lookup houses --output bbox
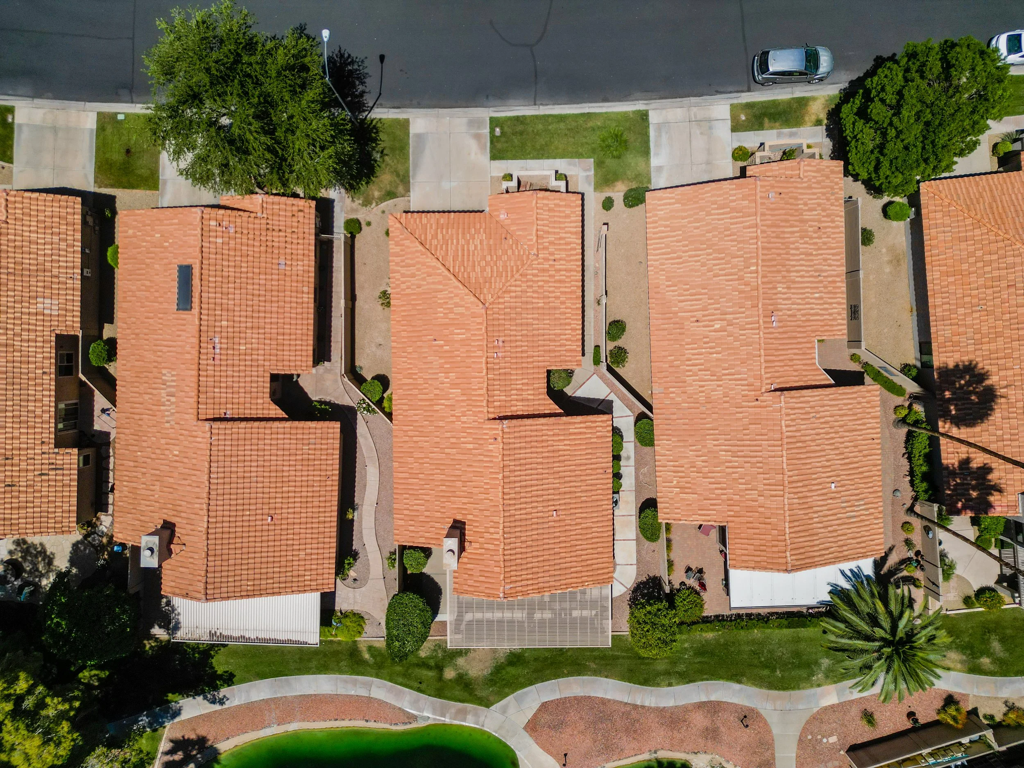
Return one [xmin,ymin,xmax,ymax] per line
[0,189,103,541]
[647,156,884,571]
[387,188,614,601]
[111,193,342,604]
[908,175,1024,519]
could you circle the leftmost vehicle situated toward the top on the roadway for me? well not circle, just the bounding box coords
[749,40,836,87]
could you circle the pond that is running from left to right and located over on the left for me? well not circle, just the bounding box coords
[203,724,517,768]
